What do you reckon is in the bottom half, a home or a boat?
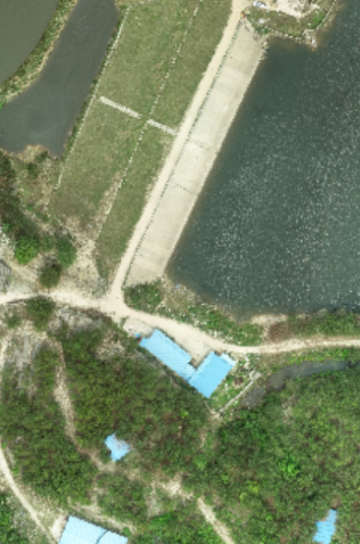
home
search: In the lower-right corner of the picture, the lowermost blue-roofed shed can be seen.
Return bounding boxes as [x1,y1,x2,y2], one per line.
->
[313,511,335,544]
